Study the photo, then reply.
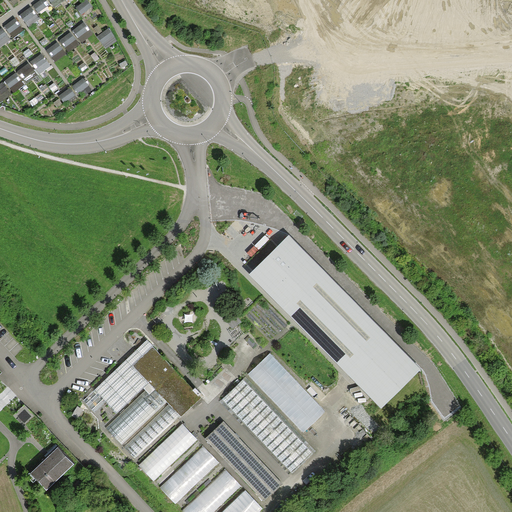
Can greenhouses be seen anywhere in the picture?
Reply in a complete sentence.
Yes, there's a greenhouse here.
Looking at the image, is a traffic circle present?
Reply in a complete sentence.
Yes, I can see a traffic circle in this picture.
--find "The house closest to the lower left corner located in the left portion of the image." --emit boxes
[28,447,73,492]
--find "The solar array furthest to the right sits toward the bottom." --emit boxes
[288,302,344,358]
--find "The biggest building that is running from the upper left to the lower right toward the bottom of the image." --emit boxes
[250,235,421,409]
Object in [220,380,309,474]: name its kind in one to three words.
greenhouse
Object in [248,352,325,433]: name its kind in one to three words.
greenhouse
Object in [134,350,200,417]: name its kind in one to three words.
building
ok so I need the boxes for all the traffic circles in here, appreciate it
[142,54,232,144]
